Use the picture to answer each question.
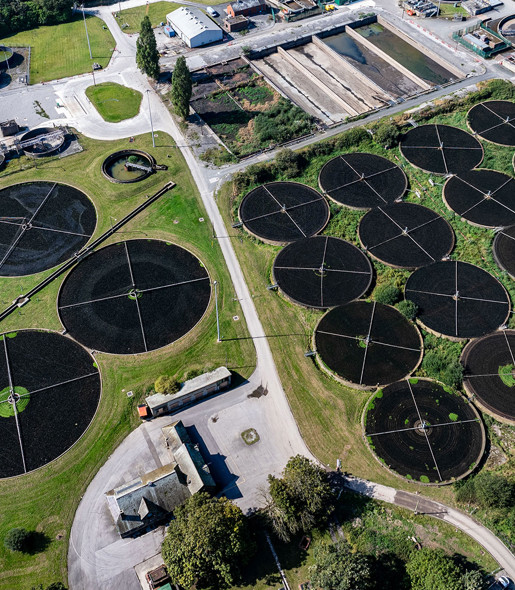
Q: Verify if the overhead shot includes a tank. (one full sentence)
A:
Yes, this view includes a tank.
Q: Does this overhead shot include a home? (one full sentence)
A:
Yes, a home can be made out from above.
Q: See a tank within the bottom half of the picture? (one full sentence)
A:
No, I can find no tank within the bottom half of the picture.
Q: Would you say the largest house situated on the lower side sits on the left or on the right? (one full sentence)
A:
It is on the left.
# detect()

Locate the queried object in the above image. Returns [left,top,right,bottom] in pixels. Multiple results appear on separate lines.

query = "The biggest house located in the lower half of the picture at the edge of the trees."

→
[107,421,213,541]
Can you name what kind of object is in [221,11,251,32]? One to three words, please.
building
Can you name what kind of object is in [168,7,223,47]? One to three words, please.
shed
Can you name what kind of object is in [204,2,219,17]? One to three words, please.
vehicle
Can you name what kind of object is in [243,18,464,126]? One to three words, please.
storage tank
